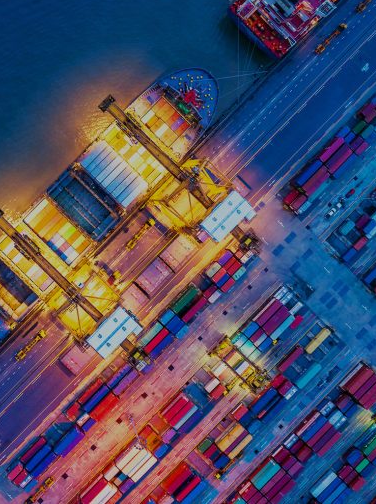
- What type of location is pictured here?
port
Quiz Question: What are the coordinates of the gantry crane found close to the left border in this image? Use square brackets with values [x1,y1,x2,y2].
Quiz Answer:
[0,208,150,361]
